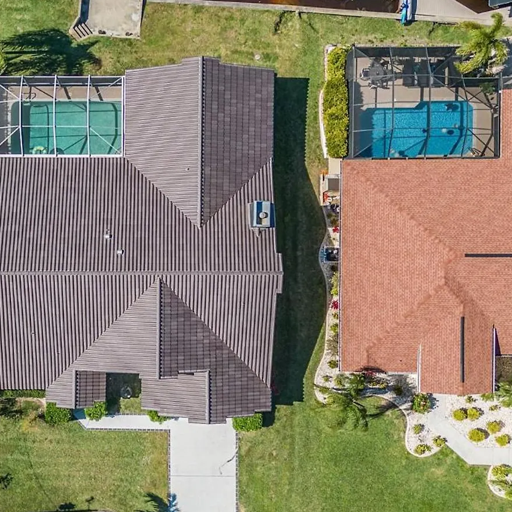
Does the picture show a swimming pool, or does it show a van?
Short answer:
swimming pool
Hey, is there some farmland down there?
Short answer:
No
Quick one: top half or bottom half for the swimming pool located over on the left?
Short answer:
top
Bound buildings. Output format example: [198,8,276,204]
[336,88,512,442]
[0,56,284,424]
